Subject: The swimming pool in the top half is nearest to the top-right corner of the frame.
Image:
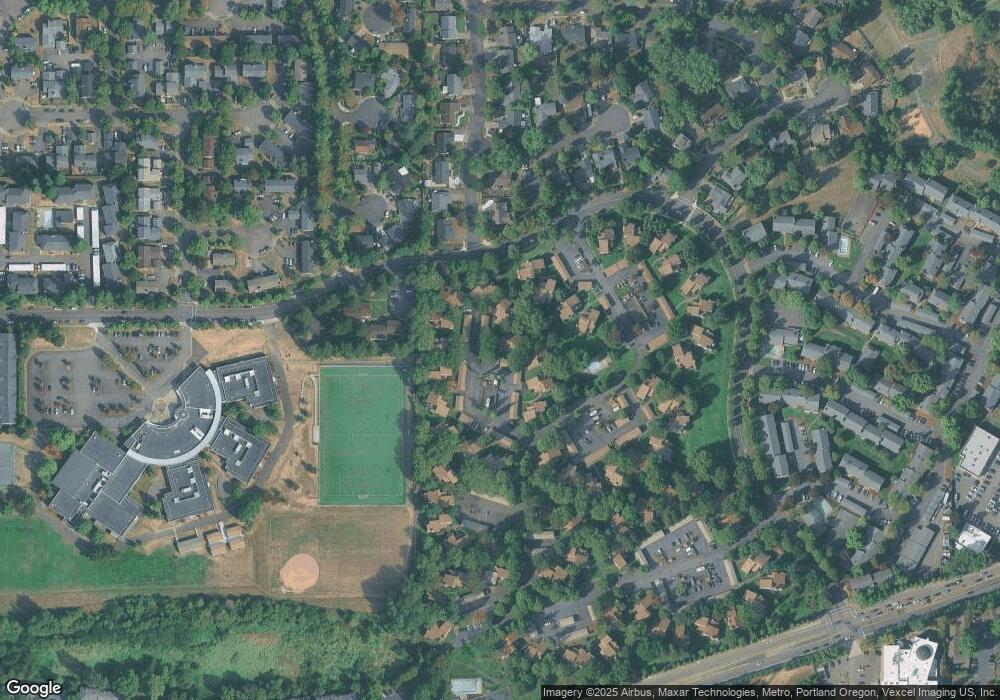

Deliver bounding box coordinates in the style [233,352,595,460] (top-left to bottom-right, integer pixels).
[836,235,850,255]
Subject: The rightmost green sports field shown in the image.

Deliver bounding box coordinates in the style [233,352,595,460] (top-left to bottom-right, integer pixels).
[317,364,407,506]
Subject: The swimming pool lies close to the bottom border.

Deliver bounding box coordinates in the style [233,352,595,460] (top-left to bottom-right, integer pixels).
[450,676,481,694]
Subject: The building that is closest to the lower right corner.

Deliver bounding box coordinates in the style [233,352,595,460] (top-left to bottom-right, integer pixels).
[882,638,940,700]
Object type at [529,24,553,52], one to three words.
house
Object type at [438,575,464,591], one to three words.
house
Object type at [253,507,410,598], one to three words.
baseball field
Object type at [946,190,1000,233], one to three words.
building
